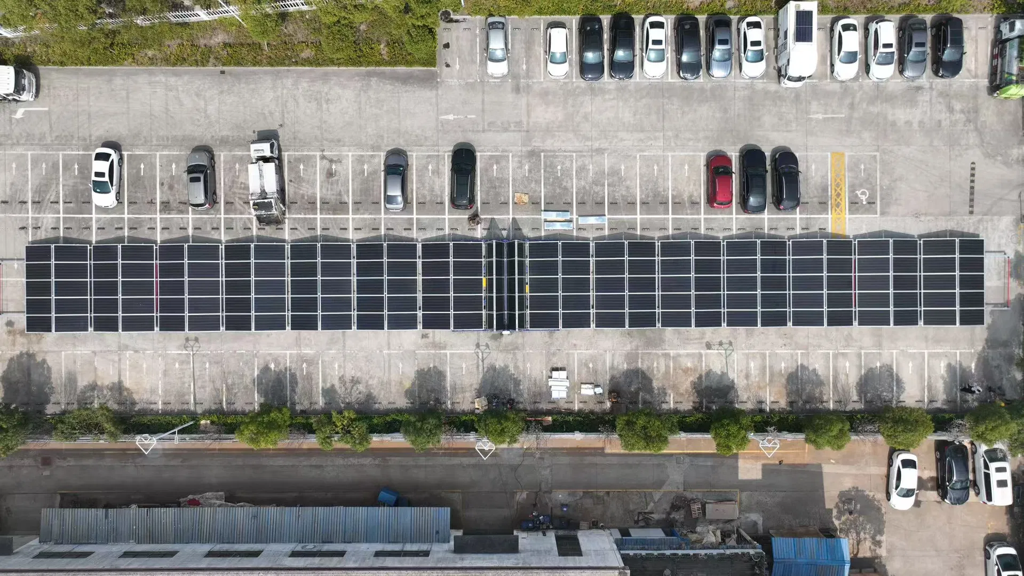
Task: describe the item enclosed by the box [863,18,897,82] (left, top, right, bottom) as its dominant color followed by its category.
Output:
white car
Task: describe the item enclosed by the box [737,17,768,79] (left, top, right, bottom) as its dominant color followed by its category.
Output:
white car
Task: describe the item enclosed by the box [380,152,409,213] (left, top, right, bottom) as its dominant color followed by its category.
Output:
gray car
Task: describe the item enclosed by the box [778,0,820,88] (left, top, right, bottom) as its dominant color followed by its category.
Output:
white vehicle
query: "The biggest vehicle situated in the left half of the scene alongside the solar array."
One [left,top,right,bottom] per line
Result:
[247,134,285,225]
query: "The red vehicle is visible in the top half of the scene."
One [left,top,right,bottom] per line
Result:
[706,155,736,210]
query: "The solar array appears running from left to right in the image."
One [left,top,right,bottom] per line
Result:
[0,239,1011,336]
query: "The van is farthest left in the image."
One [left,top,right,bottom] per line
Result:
[0,65,43,100]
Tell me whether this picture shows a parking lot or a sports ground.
parking lot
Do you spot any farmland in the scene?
No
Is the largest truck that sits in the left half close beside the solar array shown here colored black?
No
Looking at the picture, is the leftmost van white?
Yes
